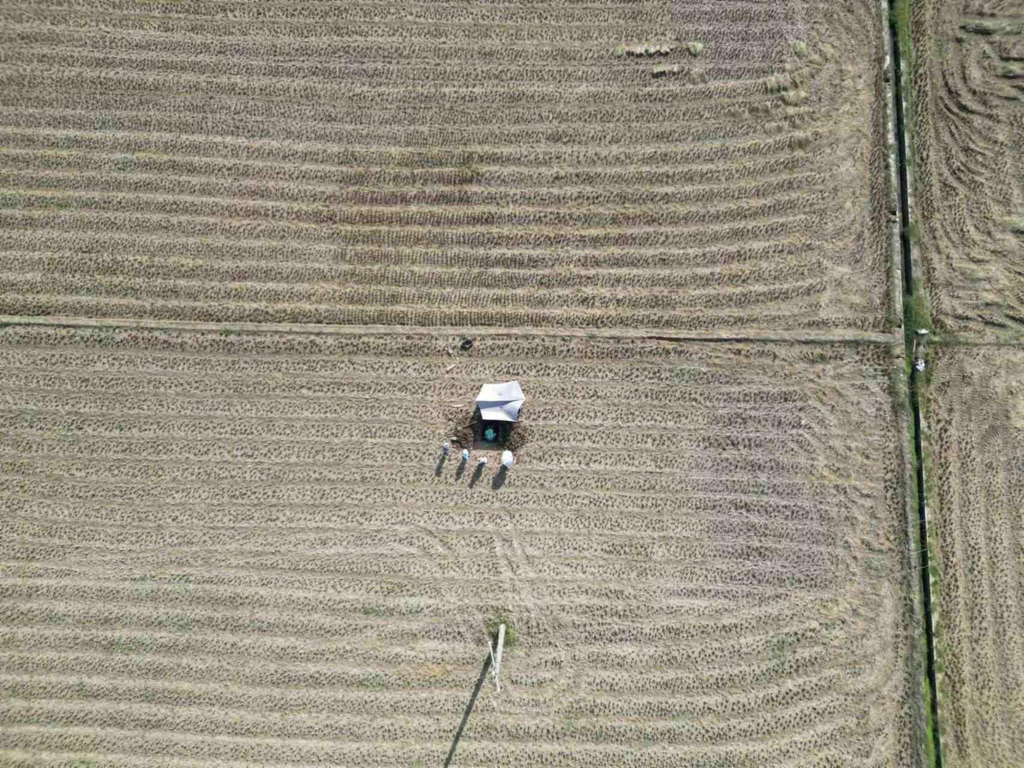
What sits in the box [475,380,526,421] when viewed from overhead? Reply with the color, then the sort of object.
white tent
